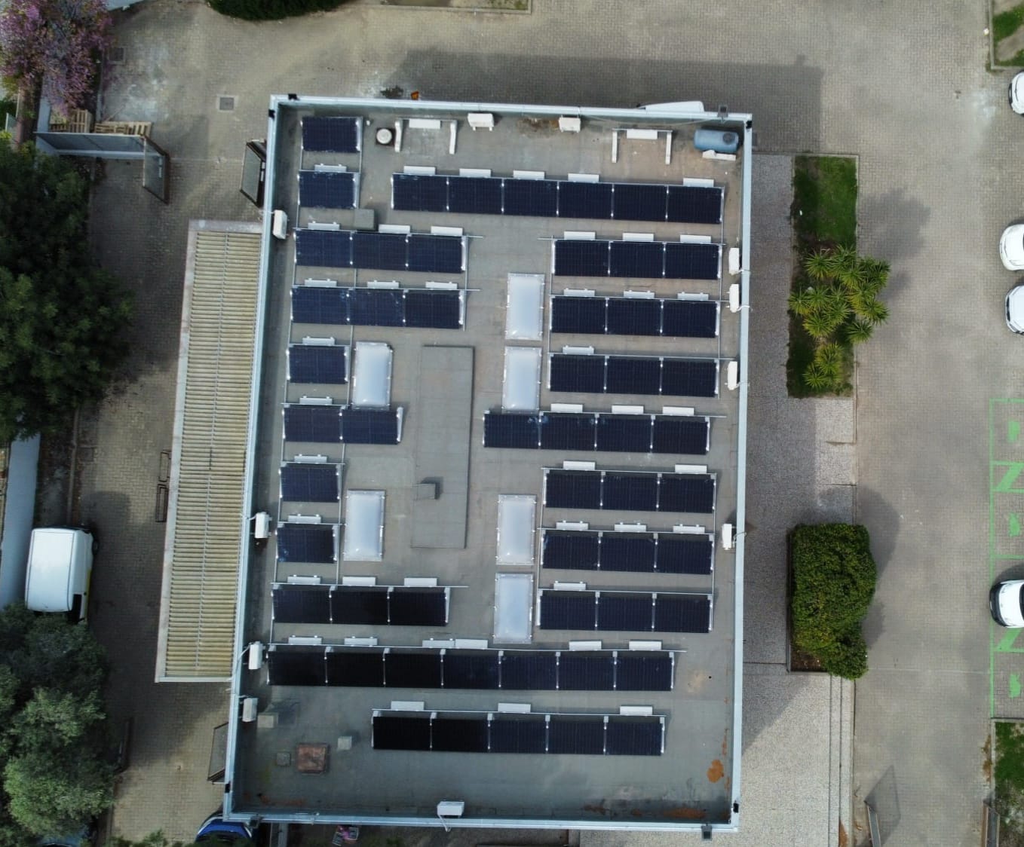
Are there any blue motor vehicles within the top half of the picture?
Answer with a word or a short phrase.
No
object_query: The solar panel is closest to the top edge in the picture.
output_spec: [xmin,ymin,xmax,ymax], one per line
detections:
[303,117,358,152]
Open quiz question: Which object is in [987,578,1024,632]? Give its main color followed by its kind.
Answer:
white car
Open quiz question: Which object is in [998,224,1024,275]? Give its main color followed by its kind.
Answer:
white car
